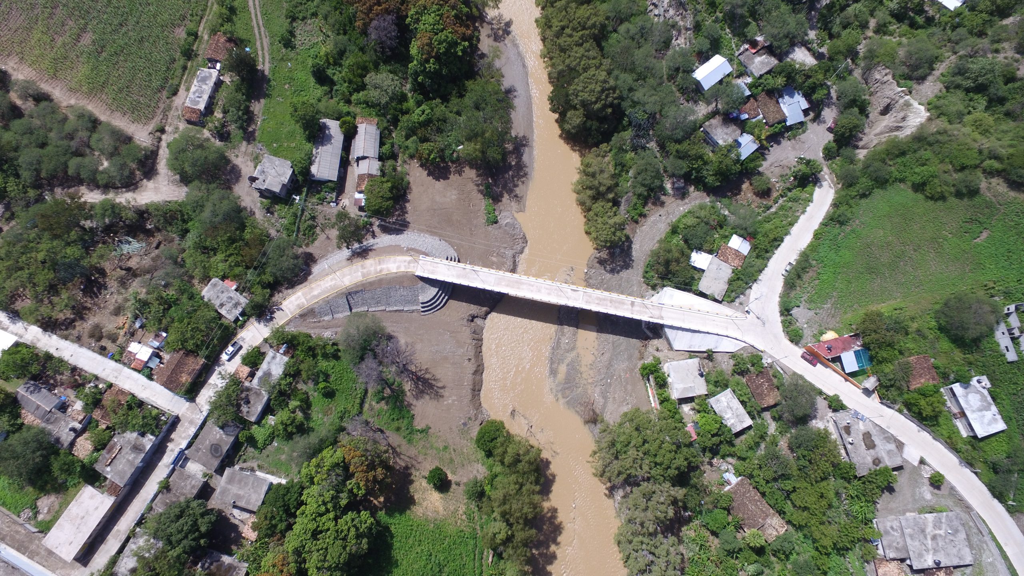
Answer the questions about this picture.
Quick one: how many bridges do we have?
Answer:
1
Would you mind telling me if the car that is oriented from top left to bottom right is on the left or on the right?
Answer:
right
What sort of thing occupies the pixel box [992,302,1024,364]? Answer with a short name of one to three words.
house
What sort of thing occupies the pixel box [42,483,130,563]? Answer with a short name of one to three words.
building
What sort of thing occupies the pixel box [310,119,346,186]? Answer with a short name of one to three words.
shed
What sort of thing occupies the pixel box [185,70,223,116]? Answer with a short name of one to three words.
house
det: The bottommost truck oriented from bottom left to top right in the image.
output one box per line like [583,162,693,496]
[219,339,241,364]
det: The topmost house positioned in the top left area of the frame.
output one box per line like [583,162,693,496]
[204,31,238,68]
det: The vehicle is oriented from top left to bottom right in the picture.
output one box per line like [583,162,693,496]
[799,349,823,369]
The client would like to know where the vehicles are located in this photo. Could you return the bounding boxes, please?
[219,339,241,364]
[826,112,842,134]
[799,349,823,369]
[779,257,796,279]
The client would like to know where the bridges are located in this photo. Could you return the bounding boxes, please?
[416,254,764,352]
